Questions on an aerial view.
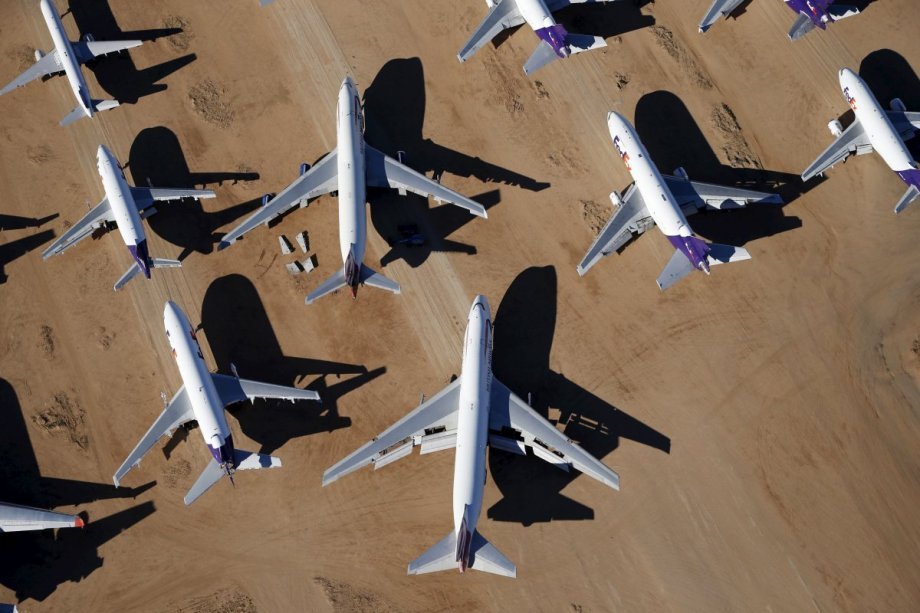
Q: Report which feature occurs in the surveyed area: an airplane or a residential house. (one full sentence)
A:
Of the two, only an airplane appears.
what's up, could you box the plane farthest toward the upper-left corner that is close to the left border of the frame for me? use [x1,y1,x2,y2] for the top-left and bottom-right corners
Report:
[2,0,143,127]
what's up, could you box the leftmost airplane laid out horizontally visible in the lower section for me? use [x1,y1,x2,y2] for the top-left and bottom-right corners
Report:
[0,502,81,532]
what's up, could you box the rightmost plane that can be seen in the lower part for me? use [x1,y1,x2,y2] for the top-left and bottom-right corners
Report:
[323,292,617,577]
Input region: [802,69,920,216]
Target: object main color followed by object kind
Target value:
white airplane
